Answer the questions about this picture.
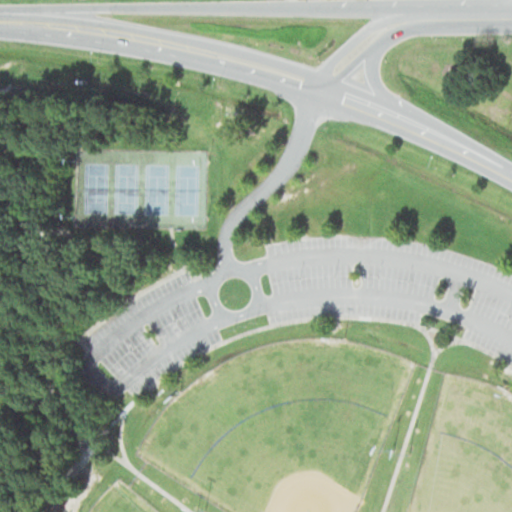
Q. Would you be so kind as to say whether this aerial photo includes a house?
No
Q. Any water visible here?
No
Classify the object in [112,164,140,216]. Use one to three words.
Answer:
tennis court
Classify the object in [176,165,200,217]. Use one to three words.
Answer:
tennis court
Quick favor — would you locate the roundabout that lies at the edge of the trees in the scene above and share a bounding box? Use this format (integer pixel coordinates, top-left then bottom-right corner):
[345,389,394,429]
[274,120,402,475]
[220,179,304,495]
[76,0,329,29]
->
[208,266,263,322]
